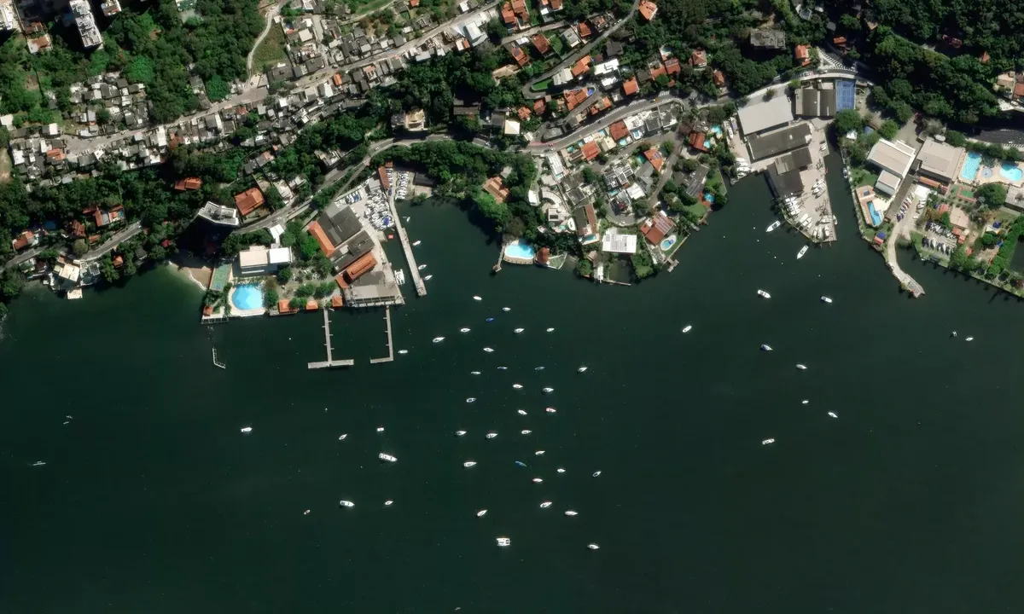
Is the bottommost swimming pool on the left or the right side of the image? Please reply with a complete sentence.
The bottommost swimming pool appears in the left half of the scene.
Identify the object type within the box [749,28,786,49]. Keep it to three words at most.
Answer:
building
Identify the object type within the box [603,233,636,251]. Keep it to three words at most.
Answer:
house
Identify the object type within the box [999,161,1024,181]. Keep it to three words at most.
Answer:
swimming pool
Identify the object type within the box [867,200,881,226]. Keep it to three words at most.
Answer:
swimming pool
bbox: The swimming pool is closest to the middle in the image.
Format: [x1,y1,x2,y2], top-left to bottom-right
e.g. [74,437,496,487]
[504,239,535,258]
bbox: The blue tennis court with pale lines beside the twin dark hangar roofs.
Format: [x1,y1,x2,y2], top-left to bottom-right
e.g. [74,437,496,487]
[836,80,855,112]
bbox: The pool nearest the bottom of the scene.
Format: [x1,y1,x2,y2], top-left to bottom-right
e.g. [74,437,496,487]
[232,283,264,311]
